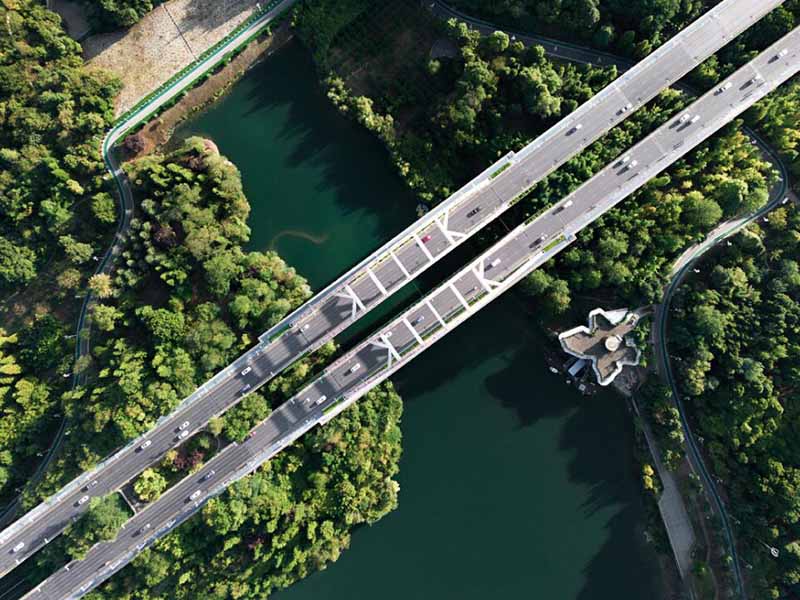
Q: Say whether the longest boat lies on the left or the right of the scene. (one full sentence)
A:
It is on the right.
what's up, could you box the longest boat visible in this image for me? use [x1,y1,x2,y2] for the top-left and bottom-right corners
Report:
[564,358,586,379]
